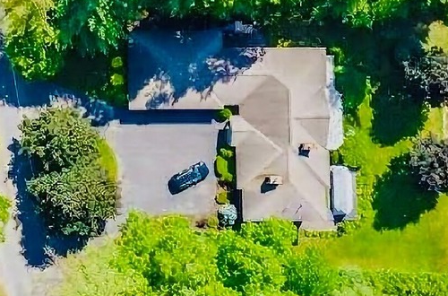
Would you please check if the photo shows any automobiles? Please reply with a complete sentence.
Yes, the image includes an automobile.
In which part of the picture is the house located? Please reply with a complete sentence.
The house is in the center part of the image.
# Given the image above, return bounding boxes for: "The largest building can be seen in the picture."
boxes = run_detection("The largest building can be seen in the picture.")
[127,28,337,231]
